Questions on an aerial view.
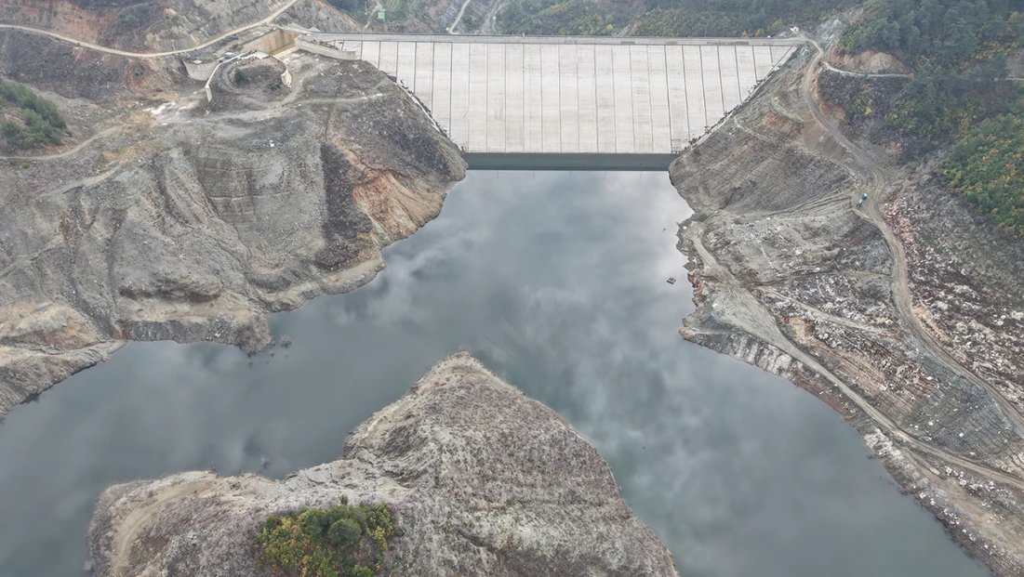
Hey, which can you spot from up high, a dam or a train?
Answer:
dam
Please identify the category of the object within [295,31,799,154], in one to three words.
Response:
dam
